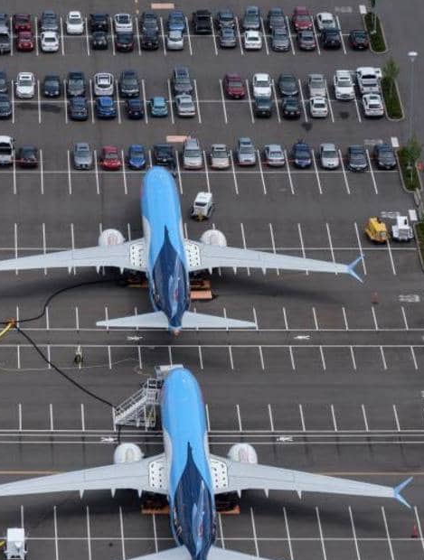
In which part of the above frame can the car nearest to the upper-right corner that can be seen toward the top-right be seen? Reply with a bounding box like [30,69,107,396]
[348,25,370,51]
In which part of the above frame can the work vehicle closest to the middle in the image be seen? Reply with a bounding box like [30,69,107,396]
[190,191,214,222]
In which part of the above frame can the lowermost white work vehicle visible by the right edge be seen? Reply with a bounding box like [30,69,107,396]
[389,214,413,242]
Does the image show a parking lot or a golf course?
parking lot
